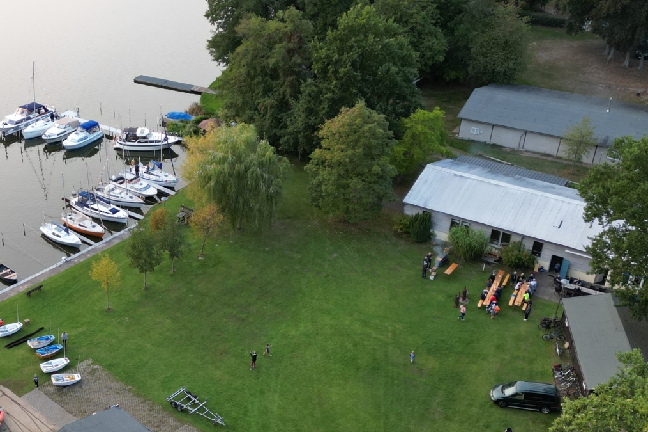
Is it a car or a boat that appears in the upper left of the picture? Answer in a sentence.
There is a boat in the upper left of the picture.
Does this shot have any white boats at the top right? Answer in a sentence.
No, there's no white boat to be seen at the top right.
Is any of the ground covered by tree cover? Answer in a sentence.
Yes, tree cover shows up in the scene.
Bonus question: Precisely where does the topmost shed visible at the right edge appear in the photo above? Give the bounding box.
[454,84,648,168]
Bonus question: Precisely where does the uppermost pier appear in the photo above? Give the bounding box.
[133,74,205,92]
